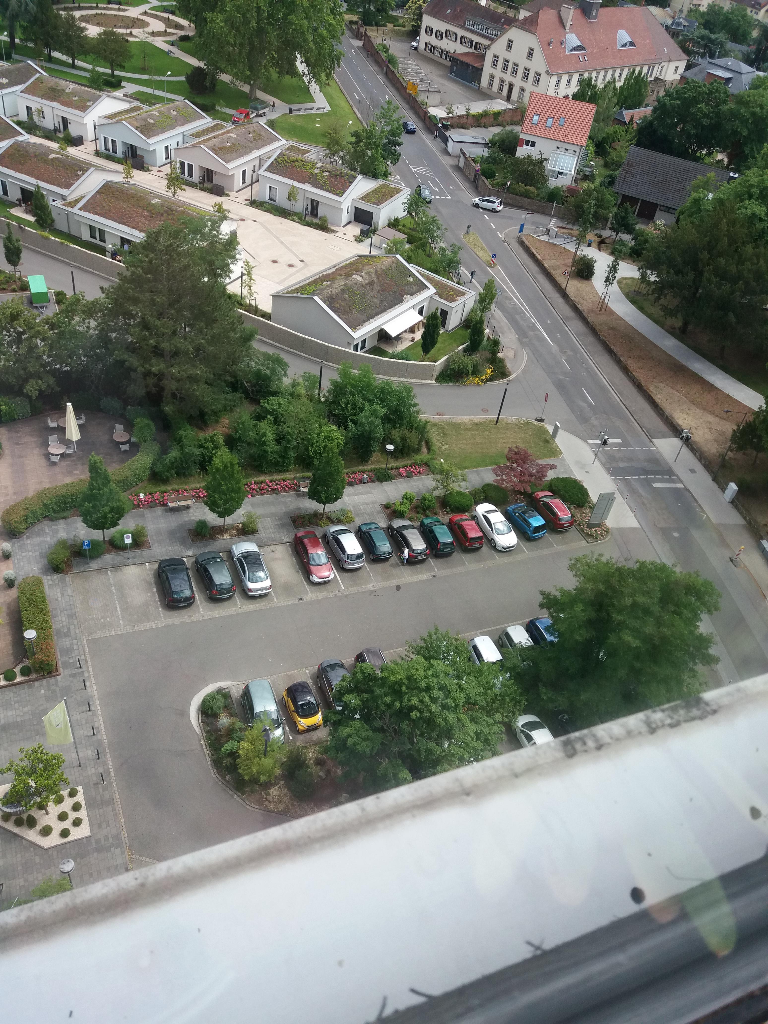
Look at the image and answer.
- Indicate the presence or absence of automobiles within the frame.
Yes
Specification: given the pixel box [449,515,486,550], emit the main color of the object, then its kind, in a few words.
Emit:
red car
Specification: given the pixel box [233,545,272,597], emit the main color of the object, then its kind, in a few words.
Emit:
gray car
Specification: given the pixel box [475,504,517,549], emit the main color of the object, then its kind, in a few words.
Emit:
white car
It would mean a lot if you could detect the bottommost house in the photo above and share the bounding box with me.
[268,253,476,353]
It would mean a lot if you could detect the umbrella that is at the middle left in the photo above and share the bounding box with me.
[67,403,81,455]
